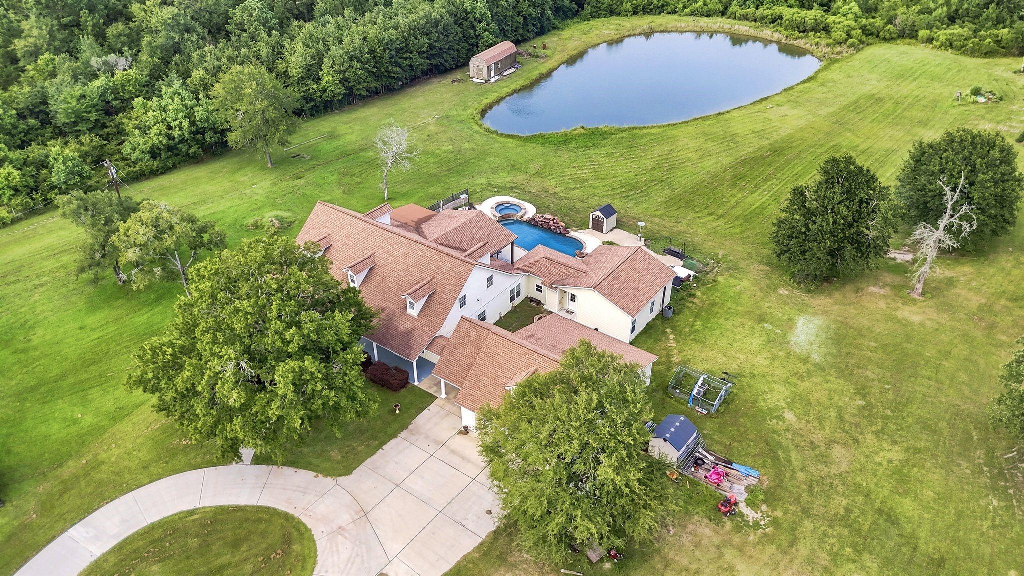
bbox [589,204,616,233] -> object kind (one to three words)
shed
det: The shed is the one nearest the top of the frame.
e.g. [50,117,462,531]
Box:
[468,44,524,81]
